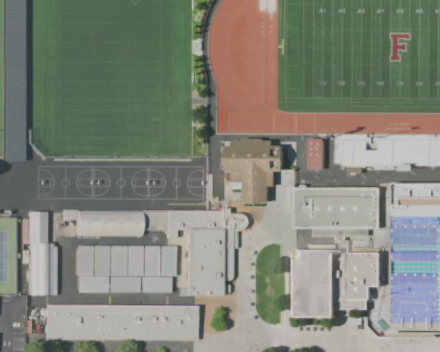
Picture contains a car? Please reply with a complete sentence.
No, the scene contains no car.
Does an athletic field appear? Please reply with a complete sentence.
Yes, the picture does show an athletic field.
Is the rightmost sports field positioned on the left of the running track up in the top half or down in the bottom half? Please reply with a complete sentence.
The top half of the photo is where the rightmost sports field positioned on the left of the running track is.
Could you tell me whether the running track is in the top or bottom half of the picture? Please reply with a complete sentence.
The running track sits in the top half of the picture.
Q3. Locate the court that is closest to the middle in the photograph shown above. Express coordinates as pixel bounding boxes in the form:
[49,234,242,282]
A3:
[149,163,204,203]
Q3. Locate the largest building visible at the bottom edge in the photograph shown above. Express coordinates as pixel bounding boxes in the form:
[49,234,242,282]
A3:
[46,305,200,340]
